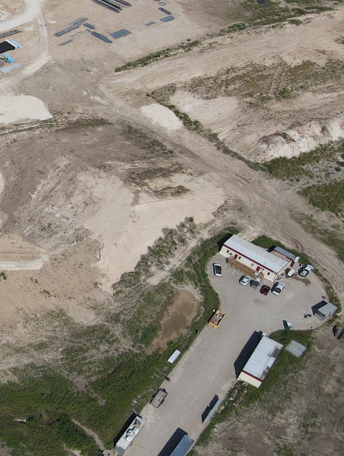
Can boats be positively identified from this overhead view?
No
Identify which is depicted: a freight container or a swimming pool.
freight container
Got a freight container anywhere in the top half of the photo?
No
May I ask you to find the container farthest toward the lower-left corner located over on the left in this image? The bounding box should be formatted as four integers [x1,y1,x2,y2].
[116,415,149,455]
